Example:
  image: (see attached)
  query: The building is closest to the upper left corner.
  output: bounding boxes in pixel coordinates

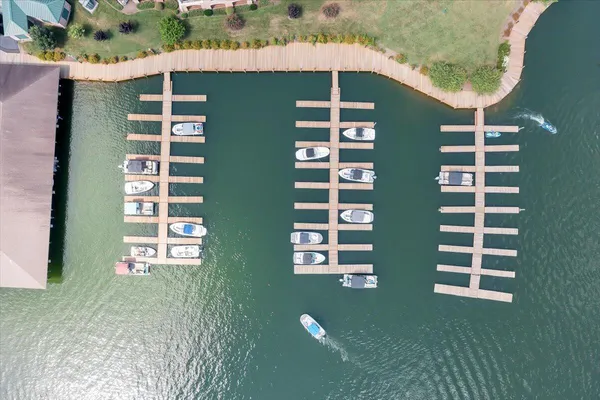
[3,0,77,42]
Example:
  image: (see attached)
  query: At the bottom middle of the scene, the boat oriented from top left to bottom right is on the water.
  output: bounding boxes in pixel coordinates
[302,314,326,342]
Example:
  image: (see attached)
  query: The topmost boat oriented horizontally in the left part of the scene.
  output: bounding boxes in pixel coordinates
[172,122,204,135]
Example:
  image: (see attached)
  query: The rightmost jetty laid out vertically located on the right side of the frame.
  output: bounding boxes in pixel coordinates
[434,108,519,302]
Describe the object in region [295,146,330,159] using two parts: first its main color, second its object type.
white boat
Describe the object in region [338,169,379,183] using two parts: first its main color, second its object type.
white boat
